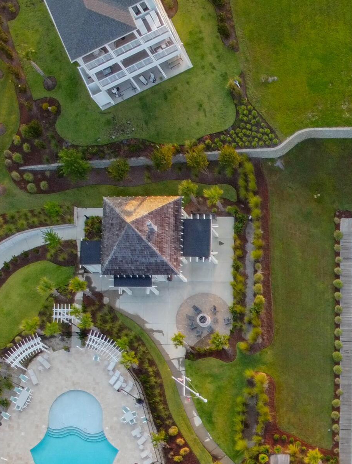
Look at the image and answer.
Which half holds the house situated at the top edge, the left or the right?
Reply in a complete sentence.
The house situated at the top edge sits on the left side.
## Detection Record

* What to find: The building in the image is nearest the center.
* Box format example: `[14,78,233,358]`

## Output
[71,195,219,295]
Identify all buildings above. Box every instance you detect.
[71,195,219,295]
[41,0,196,111]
